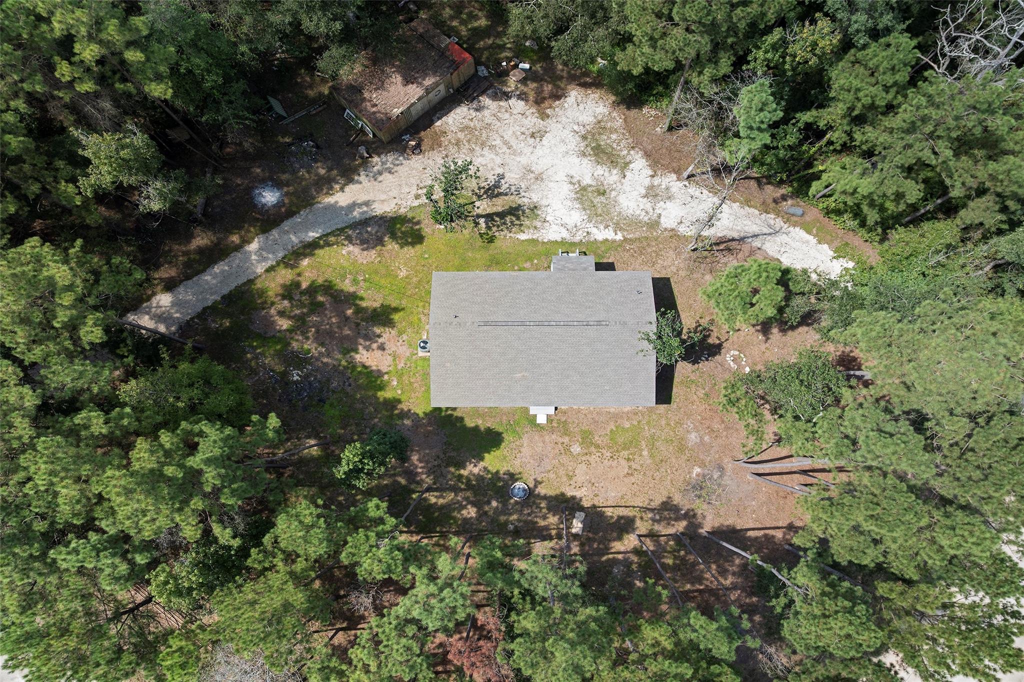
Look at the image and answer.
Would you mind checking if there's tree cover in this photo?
Yes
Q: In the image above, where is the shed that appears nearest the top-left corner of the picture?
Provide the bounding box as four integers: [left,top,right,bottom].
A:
[335,6,475,143]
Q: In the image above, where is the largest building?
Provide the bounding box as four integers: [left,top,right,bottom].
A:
[428,249,657,423]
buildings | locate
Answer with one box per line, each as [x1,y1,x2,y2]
[428,249,657,423]
[335,6,475,143]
